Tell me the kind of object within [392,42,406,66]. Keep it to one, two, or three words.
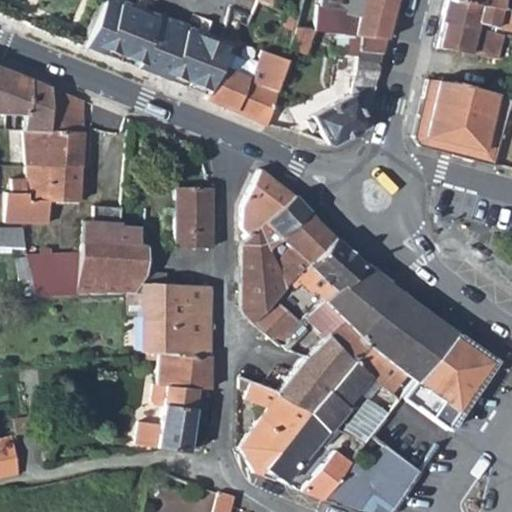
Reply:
vehicle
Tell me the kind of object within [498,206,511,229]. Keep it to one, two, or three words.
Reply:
vehicle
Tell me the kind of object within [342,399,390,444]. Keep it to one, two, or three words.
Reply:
building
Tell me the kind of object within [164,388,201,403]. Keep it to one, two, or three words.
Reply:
house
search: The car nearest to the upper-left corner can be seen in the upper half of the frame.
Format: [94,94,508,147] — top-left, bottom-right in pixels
[46,63,66,77]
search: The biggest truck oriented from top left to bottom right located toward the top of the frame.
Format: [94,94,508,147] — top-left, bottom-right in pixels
[368,168,401,196]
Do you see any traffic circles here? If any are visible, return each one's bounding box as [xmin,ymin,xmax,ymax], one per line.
[358,178,394,216]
